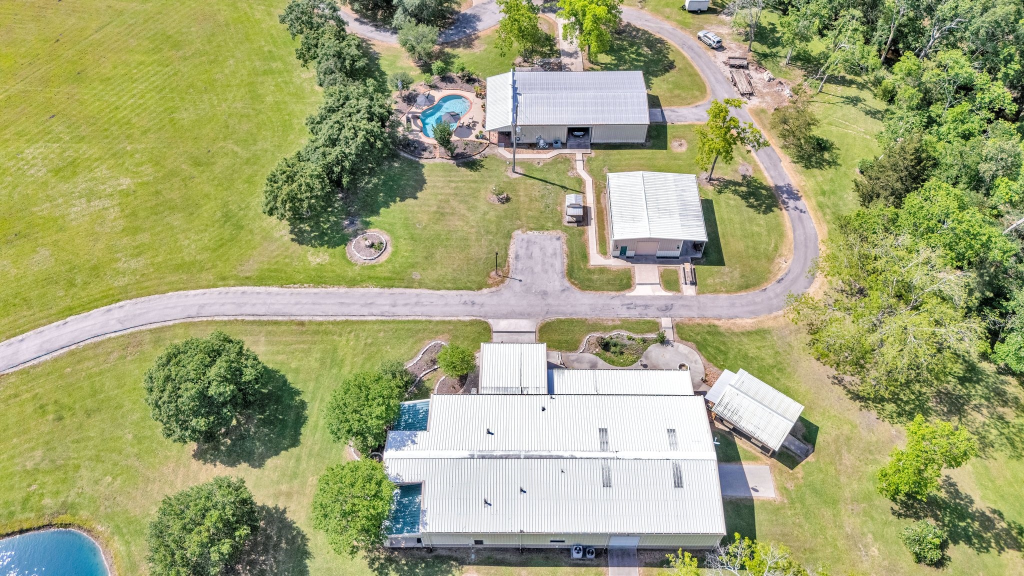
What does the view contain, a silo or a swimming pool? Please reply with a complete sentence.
This aerial view contains a swimming pool.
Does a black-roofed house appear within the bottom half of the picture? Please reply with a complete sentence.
No, no black-roofed house is visible within the bottom half of the picture.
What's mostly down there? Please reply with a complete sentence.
The scene is dominated by grass.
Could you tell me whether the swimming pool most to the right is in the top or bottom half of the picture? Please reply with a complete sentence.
The top half of the photo is where the swimming pool most to the right is.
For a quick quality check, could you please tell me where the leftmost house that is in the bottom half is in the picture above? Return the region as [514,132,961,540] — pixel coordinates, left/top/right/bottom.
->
[382,342,727,555]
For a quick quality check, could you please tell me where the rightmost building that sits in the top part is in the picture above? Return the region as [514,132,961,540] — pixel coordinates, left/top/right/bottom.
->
[603,166,709,258]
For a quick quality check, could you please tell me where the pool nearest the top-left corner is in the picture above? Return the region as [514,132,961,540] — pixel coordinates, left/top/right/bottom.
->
[418,92,477,140]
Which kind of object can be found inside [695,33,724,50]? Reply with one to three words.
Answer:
car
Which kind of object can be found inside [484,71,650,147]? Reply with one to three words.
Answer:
building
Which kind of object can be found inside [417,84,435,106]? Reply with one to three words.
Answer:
umbrella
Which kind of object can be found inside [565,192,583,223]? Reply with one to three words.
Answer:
shed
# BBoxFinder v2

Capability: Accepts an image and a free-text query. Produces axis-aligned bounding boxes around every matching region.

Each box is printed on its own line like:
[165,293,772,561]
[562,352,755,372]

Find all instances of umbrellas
[443,108,462,125]
[417,84,435,106]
